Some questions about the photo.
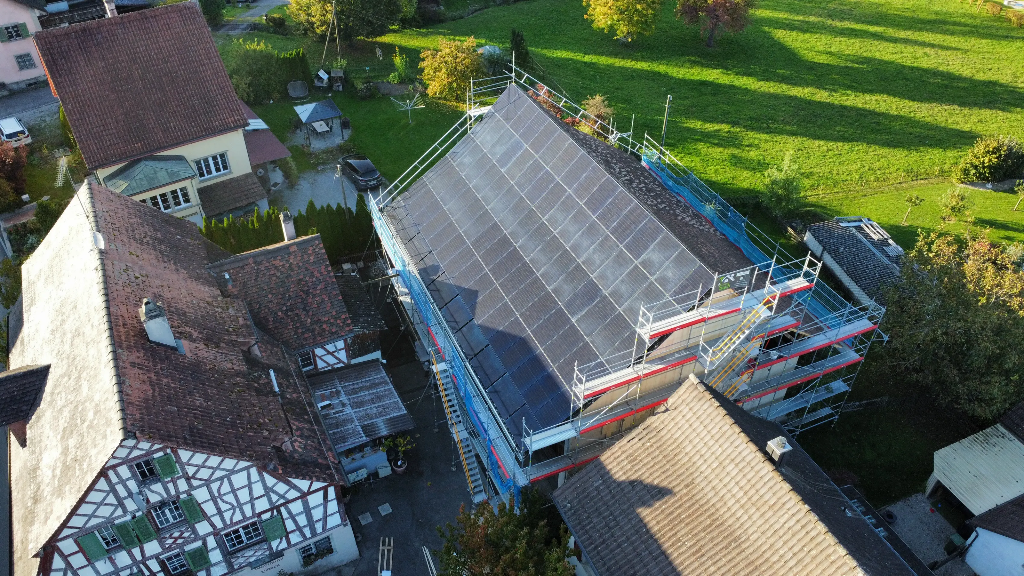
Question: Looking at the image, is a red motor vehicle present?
No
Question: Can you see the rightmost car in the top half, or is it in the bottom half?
top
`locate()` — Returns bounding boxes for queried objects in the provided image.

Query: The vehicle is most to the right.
[338,152,379,189]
